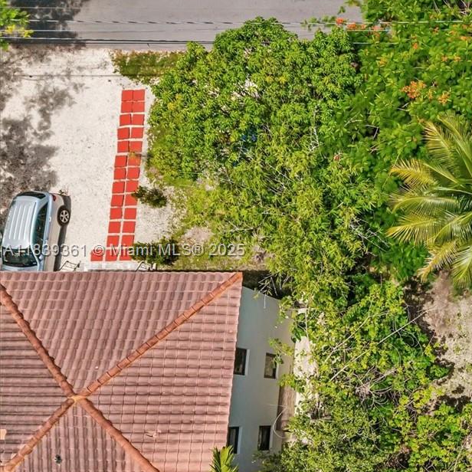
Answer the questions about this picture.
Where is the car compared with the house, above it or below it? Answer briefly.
above it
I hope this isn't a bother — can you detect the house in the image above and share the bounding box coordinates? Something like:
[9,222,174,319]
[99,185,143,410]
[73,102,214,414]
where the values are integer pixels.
[0,268,294,472]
